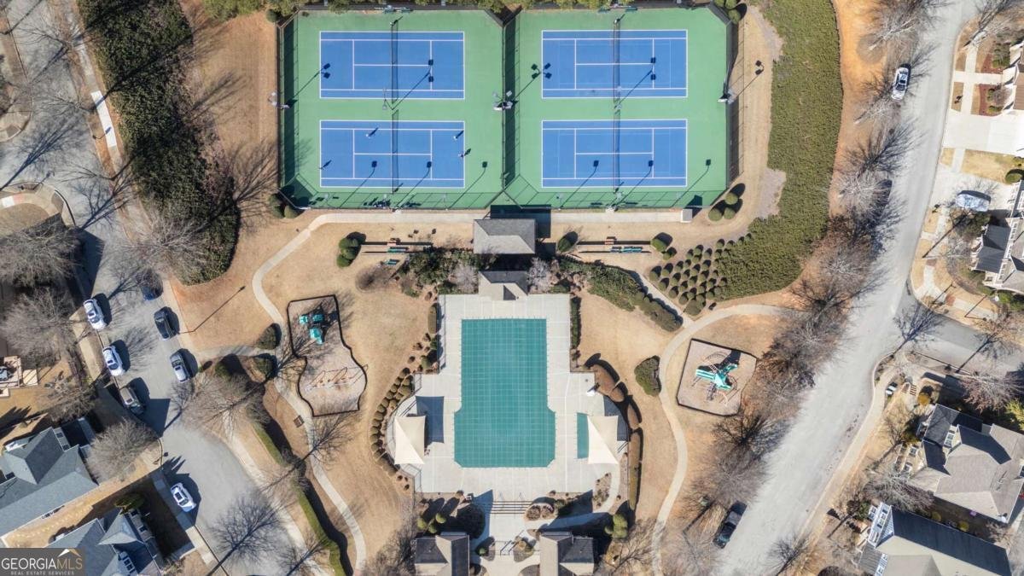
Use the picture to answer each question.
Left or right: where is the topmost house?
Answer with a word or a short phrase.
right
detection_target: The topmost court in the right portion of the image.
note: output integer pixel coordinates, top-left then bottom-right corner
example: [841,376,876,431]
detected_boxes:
[504,7,727,109]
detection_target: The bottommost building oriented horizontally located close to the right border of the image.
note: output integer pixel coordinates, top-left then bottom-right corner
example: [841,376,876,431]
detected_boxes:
[850,497,1018,576]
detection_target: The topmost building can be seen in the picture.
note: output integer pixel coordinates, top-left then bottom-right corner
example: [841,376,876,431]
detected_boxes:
[990,42,1024,117]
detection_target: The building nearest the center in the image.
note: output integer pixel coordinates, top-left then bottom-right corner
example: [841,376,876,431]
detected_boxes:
[479,271,528,301]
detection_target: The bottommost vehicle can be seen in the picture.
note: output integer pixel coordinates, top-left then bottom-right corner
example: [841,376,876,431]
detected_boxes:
[716,507,744,547]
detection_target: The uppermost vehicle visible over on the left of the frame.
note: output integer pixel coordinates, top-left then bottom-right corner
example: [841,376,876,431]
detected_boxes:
[141,270,160,300]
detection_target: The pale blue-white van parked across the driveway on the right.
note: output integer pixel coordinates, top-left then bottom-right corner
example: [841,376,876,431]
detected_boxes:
[955,192,991,209]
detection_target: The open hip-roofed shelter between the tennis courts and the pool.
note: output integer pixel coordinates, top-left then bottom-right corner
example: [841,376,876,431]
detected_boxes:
[473,218,536,255]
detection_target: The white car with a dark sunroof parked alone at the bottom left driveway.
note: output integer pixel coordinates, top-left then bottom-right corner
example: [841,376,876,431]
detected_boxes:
[171,482,193,513]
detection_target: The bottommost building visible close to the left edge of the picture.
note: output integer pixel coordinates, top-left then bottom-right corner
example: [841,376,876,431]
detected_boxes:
[38,505,168,576]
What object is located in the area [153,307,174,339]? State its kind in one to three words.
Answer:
car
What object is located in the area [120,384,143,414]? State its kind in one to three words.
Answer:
car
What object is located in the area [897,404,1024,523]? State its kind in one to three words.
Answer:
house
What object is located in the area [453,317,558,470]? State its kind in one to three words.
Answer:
swimming pool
